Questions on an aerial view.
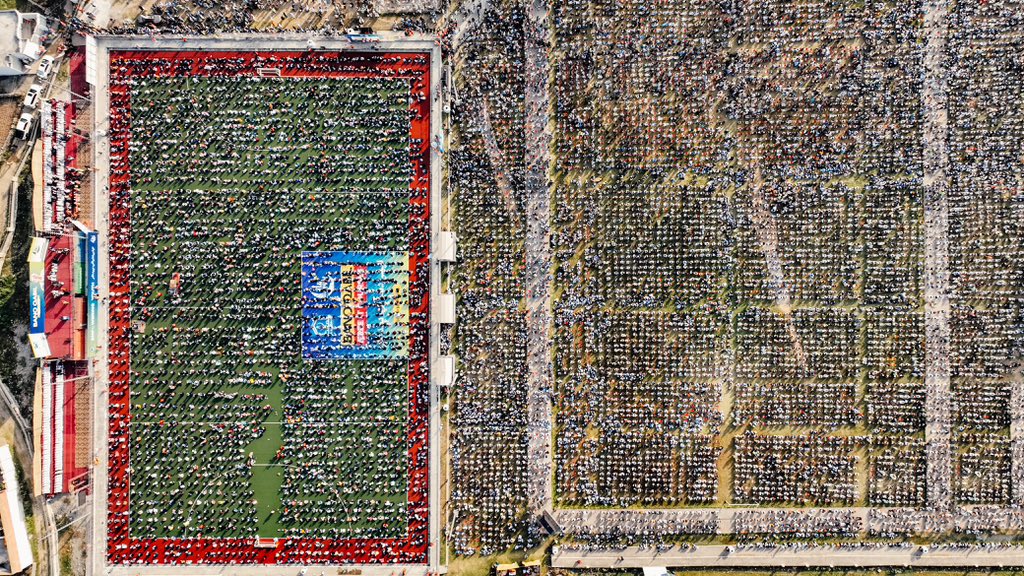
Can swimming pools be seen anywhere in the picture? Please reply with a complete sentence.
No, the picture doesn't show any swimming pool.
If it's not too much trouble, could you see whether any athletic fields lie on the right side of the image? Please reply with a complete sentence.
No, no athletic field is visible on the right side of the image.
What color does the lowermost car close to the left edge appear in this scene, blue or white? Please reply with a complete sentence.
The lowermost car close to the left edge is white.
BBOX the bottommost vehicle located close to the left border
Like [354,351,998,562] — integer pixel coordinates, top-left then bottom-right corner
[14,113,35,138]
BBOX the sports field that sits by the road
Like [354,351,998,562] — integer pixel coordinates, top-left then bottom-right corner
[108,51,429,563]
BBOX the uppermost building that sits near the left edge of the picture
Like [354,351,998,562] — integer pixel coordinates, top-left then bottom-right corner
[0,10,53,63]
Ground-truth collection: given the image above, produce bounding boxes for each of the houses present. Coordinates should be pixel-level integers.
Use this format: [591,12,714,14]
[0,10,53,63]
[0,436,40,576]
